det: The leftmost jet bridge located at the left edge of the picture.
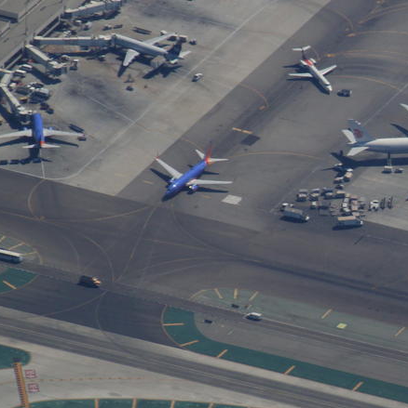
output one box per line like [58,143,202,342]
[0,65,29,124]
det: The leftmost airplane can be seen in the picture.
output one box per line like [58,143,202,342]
[0,112,85,148]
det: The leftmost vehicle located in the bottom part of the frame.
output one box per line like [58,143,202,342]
[0,245,23,261]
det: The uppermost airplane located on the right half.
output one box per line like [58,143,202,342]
[288,49,335,94]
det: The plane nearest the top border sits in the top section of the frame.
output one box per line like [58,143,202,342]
[117,33,188,64]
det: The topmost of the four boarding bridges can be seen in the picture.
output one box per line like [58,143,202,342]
[63,0,131,25]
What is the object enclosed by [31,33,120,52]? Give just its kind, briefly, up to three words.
jet bridge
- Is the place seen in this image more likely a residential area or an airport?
airport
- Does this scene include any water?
No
